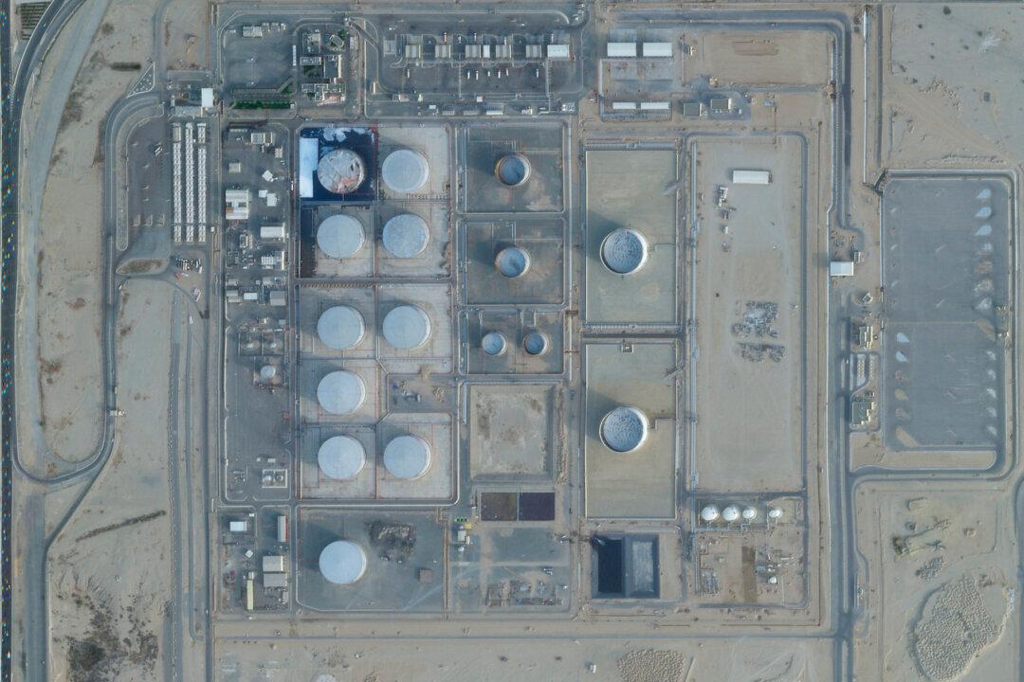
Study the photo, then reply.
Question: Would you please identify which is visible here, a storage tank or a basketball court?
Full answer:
Looking from above, you can make out a storage tank.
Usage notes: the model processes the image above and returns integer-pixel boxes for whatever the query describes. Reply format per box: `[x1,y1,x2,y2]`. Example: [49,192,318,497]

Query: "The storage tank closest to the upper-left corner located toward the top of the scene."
[316,146,366,195]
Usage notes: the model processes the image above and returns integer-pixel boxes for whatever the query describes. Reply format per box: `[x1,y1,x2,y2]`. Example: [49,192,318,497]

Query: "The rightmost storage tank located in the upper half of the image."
[600,228,654,275]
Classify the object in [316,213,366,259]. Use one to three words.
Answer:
storage tank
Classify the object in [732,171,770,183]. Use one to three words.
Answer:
building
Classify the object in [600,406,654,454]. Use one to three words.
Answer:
storage tank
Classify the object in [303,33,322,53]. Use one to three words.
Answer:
building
